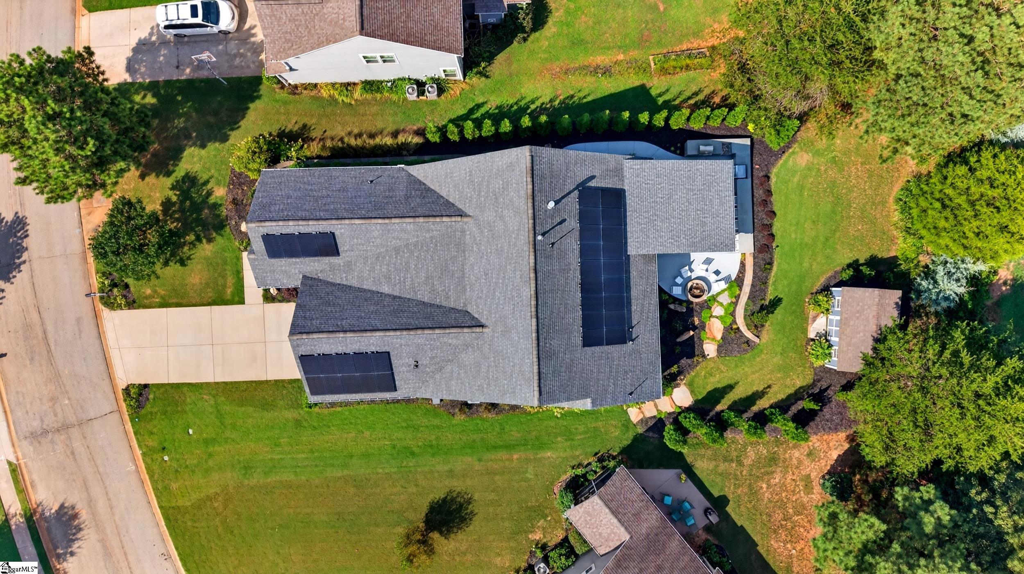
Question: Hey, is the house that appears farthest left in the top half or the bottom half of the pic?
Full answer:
The top half of the photo is where the house that appears farthest left is.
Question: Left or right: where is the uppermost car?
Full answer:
The uppermost car appears in the left half of the scene.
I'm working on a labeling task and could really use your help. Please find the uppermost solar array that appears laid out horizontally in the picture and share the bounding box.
[262,231,339,259]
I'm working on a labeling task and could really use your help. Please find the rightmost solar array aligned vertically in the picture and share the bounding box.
[577,189,628,347]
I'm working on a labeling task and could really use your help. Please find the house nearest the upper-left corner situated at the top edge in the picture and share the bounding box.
[247,0,467,90]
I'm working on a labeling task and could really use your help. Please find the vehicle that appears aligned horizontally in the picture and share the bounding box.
[156,0,236,39]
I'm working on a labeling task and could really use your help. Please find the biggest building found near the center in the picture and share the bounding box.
[247,146,739,409]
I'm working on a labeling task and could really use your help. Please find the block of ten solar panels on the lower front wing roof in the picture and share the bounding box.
[300,351,395,395]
